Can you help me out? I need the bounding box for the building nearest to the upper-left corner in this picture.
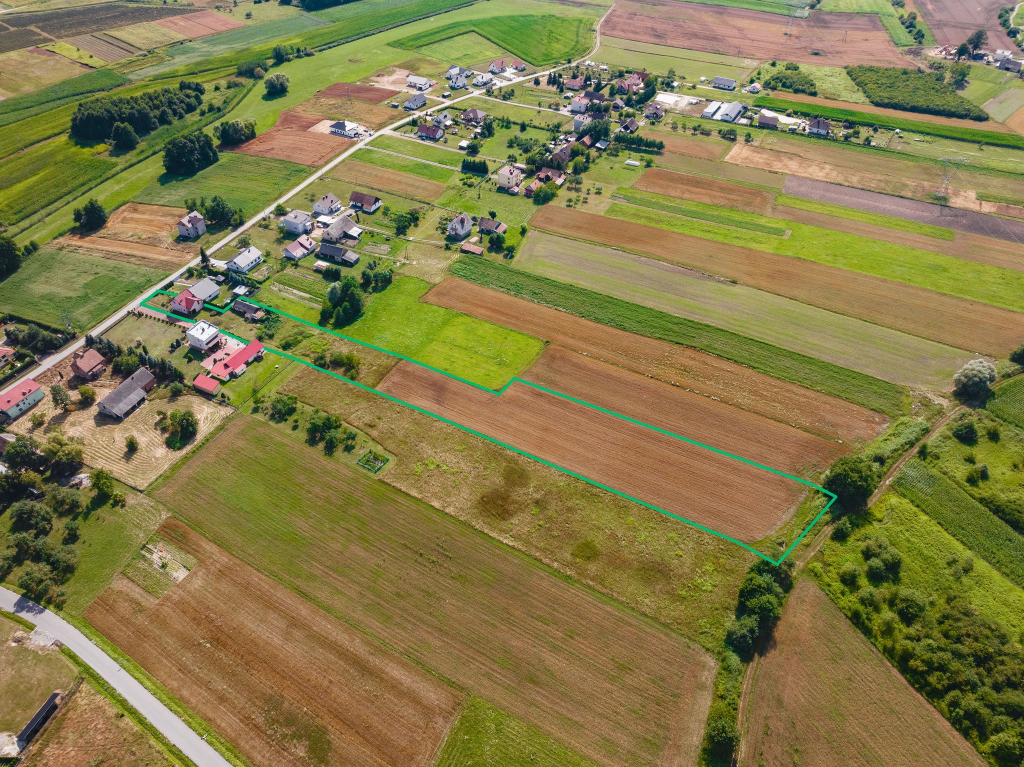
[176,211,206,236]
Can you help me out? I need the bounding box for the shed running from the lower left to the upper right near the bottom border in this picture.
[19,691,58,743]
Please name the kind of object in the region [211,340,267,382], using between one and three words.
barn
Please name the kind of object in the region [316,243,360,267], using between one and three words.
shed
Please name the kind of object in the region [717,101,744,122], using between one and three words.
building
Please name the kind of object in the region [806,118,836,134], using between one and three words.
house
